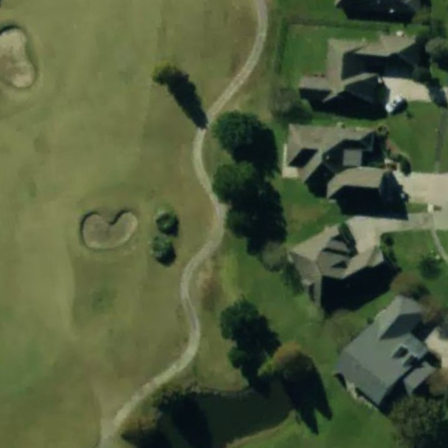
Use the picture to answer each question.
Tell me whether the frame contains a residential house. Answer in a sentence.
Yes, a residential house is visible in the scene.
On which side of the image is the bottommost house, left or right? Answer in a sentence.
It is on the right.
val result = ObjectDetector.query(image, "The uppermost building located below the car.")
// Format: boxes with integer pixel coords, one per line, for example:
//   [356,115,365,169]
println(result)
[288,124,393,206]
